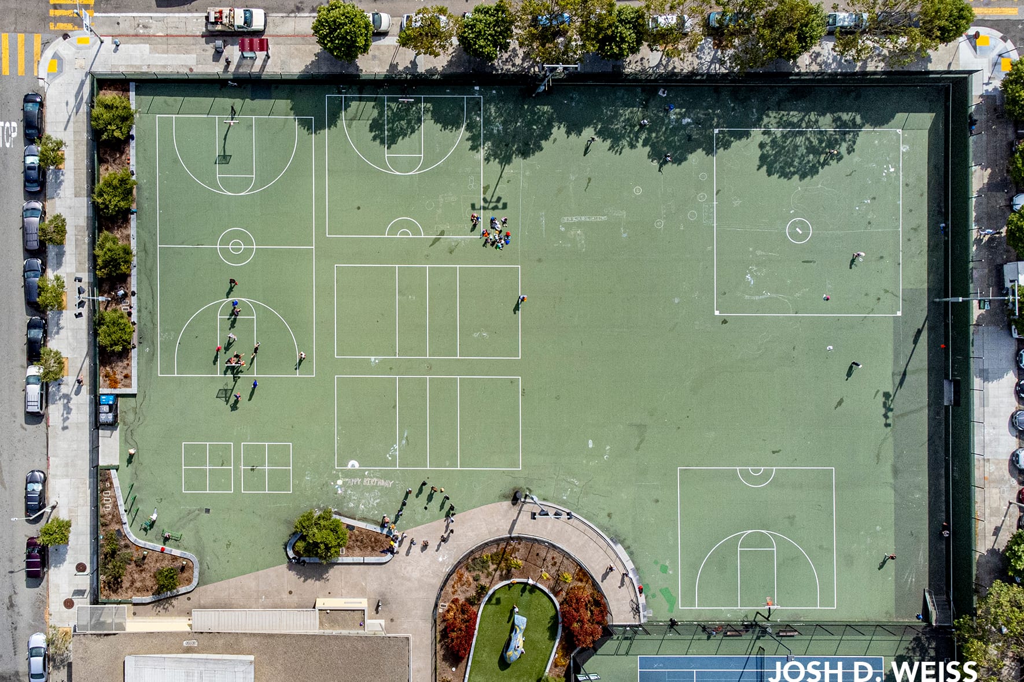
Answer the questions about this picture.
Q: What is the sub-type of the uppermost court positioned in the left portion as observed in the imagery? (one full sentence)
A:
I'd say the uppermost court positioned in the left portion is a basketball court.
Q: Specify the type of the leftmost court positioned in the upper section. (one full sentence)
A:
I'd identify the leftmost court positioned in the upper section as a basketball court.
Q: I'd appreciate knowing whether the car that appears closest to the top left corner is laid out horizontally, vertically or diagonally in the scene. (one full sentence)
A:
From this overhead view, the car that appears closest to the top left corner appears to run vertically.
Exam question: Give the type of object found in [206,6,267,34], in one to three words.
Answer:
truck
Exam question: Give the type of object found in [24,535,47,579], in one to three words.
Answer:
car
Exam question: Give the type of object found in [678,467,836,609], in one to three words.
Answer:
basketball court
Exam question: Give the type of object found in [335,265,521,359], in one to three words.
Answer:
sports court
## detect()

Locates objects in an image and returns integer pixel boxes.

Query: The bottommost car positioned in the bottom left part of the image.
[26,634,49,682]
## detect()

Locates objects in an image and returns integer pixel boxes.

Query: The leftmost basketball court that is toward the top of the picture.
[157,115,315,377]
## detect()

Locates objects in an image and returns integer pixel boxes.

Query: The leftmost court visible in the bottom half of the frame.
[182,443,234,493]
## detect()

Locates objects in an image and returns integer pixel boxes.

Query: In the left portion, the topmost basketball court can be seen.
[326,95,483,237]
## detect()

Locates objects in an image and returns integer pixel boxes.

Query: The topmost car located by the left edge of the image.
[21,92,45,140]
